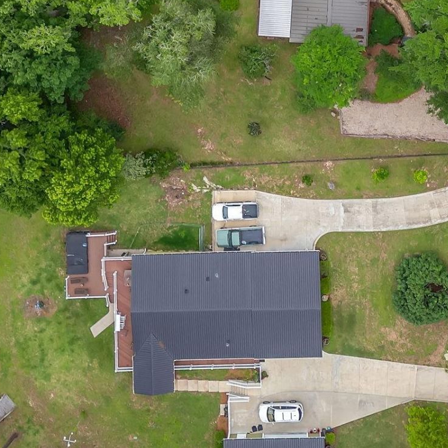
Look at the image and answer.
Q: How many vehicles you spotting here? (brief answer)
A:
3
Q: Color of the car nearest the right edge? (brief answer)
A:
white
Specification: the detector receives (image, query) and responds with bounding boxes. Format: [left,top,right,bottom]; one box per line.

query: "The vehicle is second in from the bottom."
[217,227,266,248]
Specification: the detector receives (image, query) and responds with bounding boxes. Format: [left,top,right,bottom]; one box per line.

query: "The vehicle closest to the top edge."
[211,201,258,222]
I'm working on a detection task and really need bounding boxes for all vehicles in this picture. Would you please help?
[217,227,266,248]
[259,400,301,423]
[211,201,258,222]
